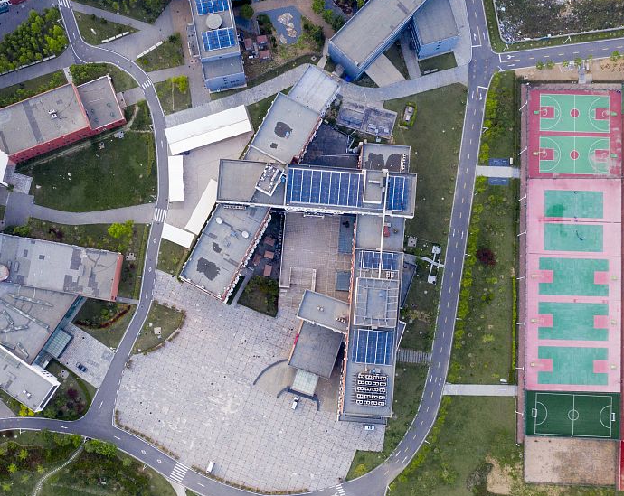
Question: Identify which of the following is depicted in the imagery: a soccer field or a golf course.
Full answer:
There is a soccer field in the scene.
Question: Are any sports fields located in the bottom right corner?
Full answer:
Yes, you'll find a sports field in the bottom right corner.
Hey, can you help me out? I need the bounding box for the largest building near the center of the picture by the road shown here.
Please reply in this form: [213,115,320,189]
[179,64,417,424]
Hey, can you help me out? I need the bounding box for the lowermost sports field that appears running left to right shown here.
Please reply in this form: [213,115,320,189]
[524,439,619,488]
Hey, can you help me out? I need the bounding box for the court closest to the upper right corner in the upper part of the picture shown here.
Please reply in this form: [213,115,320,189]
[540,93,610,131]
